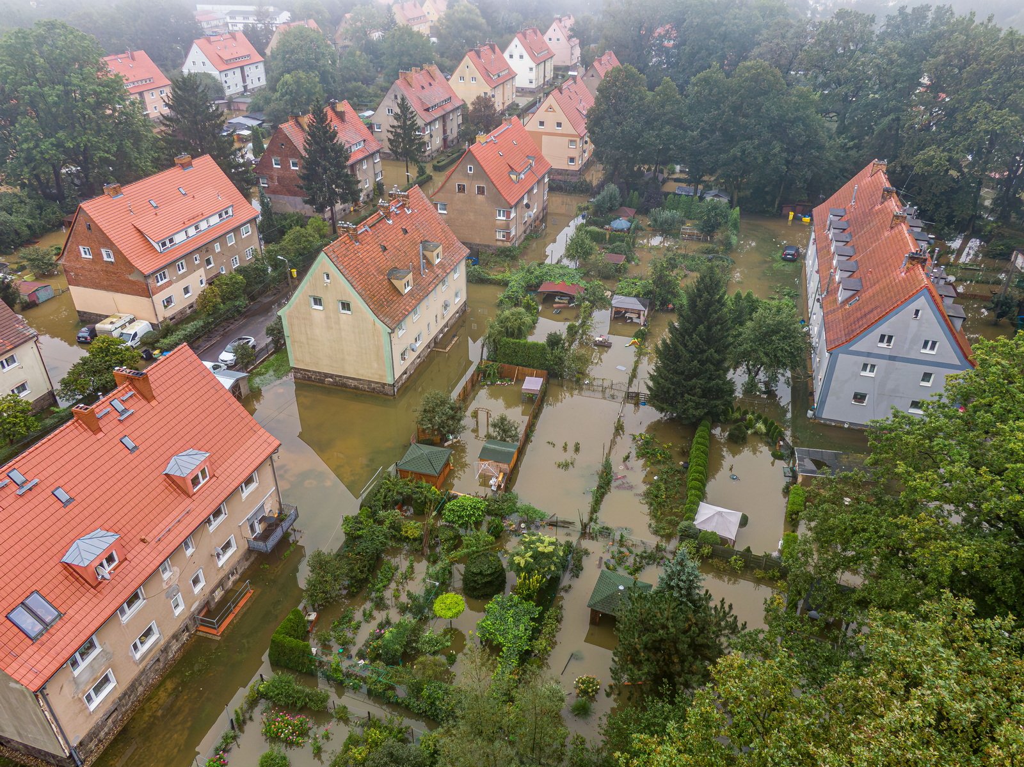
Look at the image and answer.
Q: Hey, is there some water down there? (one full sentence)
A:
Yes, water shows up in the scene.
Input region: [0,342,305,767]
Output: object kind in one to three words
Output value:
house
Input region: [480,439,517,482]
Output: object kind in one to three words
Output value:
shed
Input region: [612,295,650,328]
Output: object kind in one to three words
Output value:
gazebo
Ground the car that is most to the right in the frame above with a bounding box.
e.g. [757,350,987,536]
[783,245,802,262]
